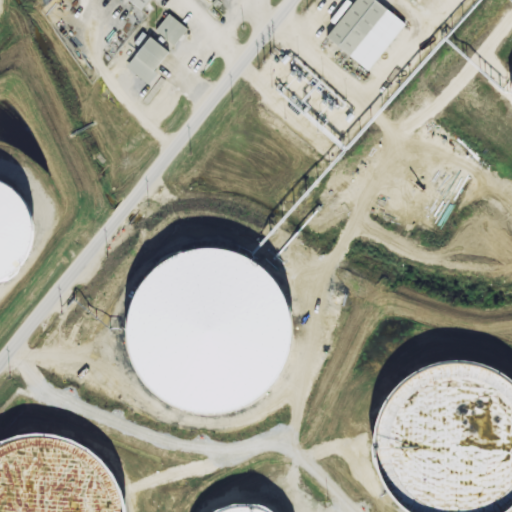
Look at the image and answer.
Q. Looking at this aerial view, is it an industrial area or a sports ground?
industrial area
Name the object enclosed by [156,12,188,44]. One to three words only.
building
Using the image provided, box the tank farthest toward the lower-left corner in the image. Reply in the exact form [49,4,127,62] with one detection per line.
[0,432,125,512]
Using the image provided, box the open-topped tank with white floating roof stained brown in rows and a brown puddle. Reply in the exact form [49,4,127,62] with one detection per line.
[371,360,512,512]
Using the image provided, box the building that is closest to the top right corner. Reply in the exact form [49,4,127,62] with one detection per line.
[326,0,406,70]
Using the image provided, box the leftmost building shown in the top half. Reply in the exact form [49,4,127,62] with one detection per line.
[126,35,169,79]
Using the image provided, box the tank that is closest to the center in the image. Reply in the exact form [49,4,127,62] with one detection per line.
[127,246,292,416]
